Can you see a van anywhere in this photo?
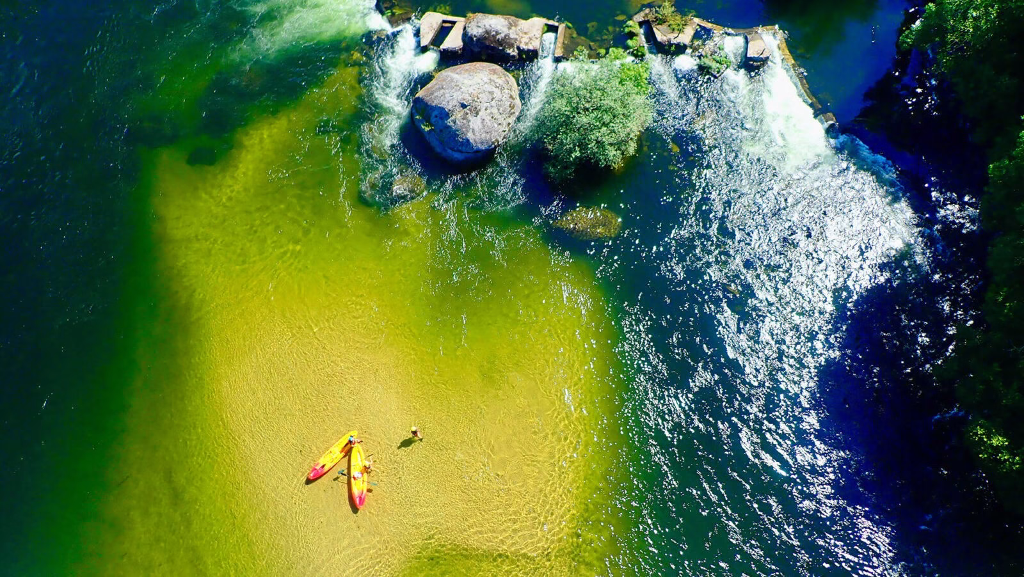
No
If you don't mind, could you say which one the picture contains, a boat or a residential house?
boat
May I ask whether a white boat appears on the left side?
No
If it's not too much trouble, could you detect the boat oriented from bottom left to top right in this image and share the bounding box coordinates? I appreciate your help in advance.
[309,432,356,480]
